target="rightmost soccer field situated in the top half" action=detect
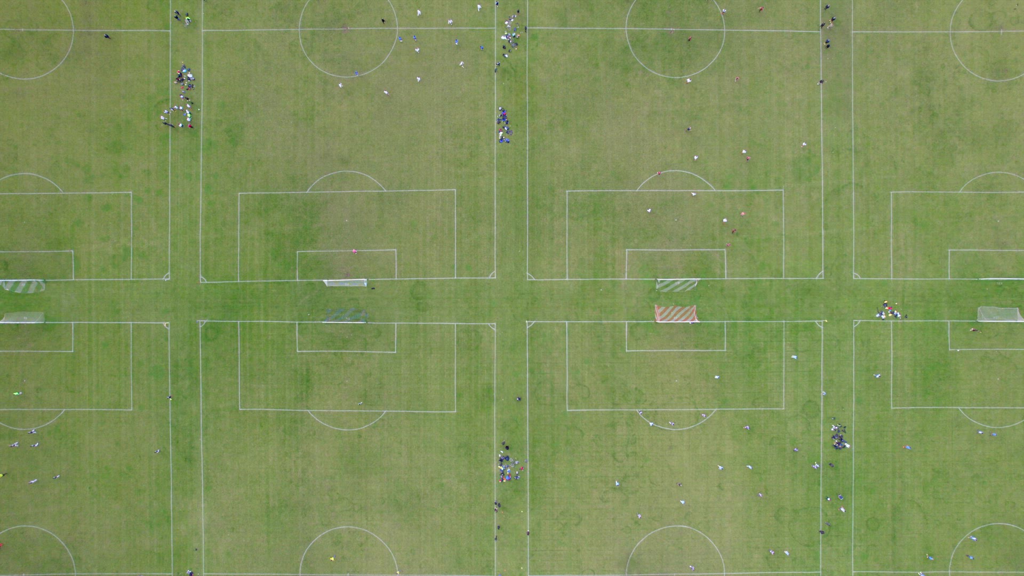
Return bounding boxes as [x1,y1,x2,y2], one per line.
[852,0,1024,279]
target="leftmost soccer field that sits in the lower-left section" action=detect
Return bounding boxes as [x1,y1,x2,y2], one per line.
[0,318,172,576]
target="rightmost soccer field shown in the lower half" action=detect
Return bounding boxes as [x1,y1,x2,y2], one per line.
[852,316,1024,576]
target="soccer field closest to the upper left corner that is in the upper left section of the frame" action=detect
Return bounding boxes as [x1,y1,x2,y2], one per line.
[0,0,171,281]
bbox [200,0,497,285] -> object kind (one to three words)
soccer field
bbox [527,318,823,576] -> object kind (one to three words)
soccer field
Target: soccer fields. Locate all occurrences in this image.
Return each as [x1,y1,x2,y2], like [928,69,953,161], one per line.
[526,0,824,284]
[0,318,172,576]
[852,316,1024,576]
[527,318,823,576]
[200,0,497,285]
[852,0,1024,279]
[197,317,497,576]
[0,0,171,281]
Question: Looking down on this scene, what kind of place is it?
sports ground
